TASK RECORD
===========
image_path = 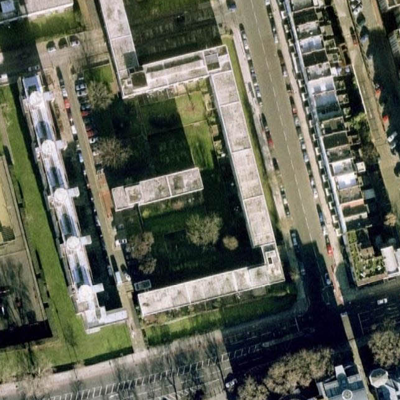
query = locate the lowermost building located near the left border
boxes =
[16,76,128,337]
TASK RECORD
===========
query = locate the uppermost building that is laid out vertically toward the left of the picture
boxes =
[99,0,148,101]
